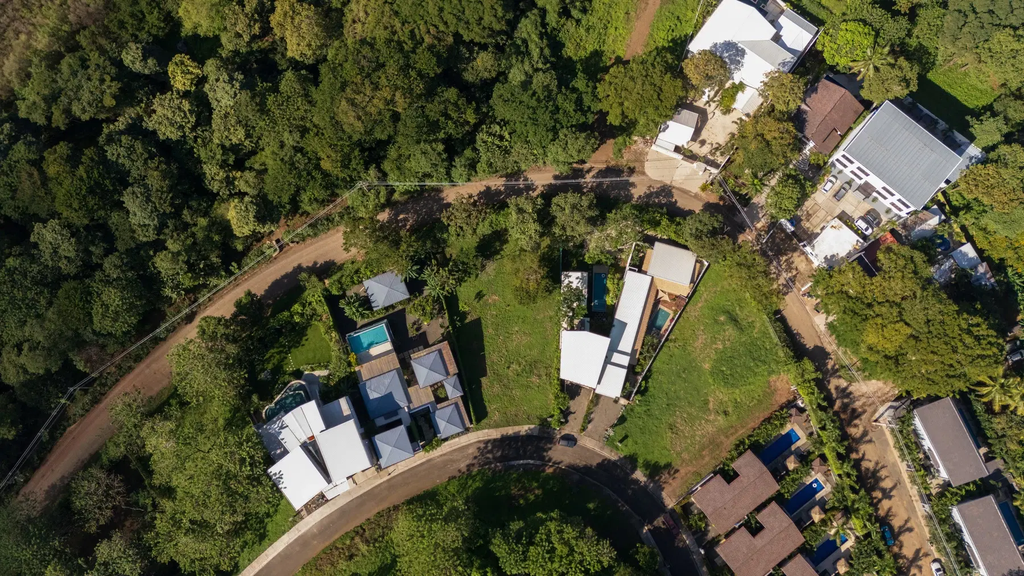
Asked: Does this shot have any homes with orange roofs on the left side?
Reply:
No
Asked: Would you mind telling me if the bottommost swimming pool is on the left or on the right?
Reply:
right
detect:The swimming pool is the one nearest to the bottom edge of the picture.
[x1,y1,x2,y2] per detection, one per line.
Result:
[805,527,856,572]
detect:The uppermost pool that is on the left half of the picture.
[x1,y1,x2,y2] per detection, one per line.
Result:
[348,319,397,365]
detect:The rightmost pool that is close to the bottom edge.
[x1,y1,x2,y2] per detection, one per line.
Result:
[997,499,1024,549]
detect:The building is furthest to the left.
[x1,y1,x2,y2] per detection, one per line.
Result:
[258,395,377,510]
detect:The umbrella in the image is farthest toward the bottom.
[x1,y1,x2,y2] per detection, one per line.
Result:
[834,558,849,573]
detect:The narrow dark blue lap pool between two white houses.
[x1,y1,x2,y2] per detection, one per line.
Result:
[592,265,609,311]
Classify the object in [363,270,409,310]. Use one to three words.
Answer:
building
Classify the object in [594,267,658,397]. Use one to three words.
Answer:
house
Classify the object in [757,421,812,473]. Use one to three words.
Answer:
swimming pool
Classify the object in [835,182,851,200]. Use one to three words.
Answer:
car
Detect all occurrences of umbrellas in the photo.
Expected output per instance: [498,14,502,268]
[785,454,799,469]
[834,558,849,573]
[810,506,824,521]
